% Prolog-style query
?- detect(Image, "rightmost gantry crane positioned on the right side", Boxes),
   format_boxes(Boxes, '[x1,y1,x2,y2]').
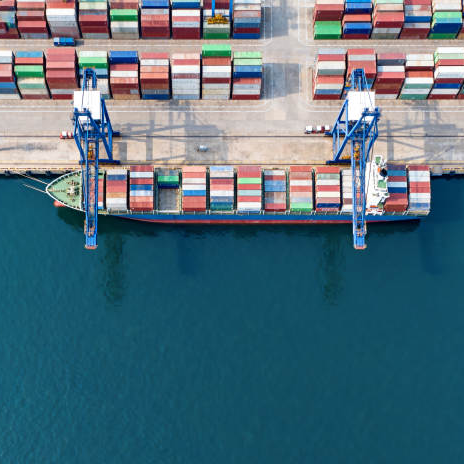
[328,66,382,252]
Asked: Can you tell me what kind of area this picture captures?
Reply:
port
